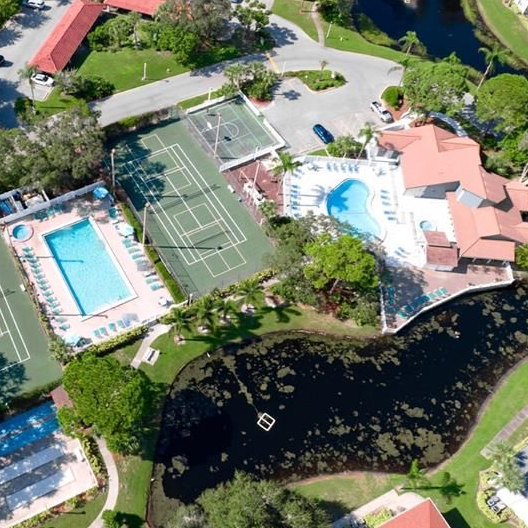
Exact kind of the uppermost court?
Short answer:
basketball court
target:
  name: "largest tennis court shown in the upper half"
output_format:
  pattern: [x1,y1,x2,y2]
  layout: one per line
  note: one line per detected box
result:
[100,118,279,295]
